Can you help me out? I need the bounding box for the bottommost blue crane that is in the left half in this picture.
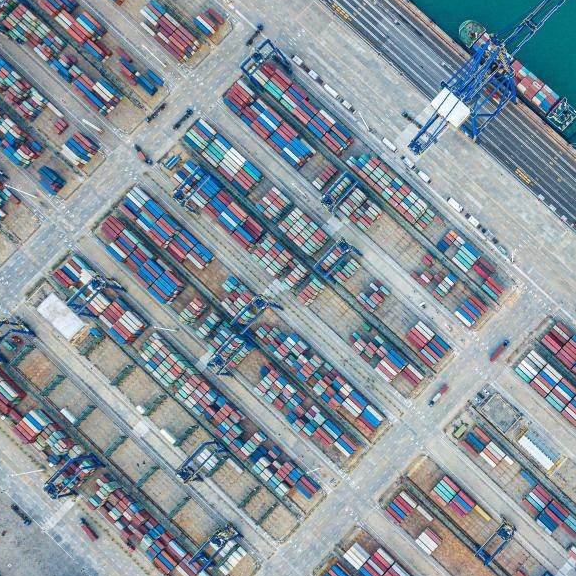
[188,522,243,574]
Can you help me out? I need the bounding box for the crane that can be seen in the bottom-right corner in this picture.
[473,515,515,567]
